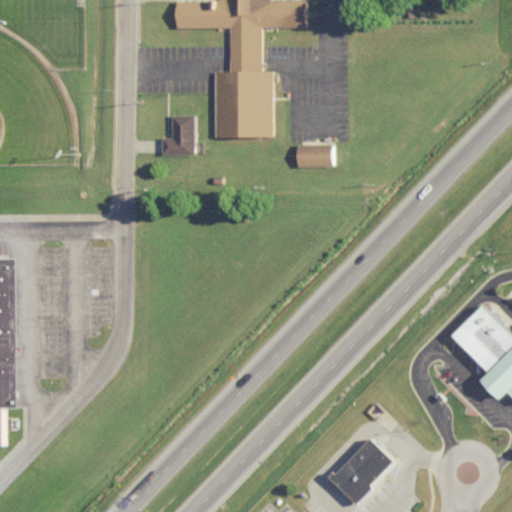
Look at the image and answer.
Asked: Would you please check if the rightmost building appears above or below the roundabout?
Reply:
above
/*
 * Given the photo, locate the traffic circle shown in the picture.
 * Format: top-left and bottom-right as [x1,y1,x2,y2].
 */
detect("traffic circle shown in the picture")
[434,441,500,512]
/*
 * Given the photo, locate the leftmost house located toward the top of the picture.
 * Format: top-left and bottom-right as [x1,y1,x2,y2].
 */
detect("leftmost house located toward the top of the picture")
[162,117,204,154]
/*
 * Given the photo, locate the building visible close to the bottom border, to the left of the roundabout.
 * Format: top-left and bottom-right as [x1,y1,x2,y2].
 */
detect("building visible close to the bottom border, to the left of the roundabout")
[328,440,396,503]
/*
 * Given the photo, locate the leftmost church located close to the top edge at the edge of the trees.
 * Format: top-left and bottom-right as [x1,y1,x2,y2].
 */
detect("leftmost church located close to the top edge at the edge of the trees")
[172,0,308,138]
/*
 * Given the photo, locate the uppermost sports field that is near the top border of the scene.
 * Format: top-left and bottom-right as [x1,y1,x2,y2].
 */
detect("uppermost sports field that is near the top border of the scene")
[0,0,86,72]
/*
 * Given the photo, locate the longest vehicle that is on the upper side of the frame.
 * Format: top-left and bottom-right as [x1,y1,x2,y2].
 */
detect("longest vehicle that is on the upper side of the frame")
[418,184,434,200]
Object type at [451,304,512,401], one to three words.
building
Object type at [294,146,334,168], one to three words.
shed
